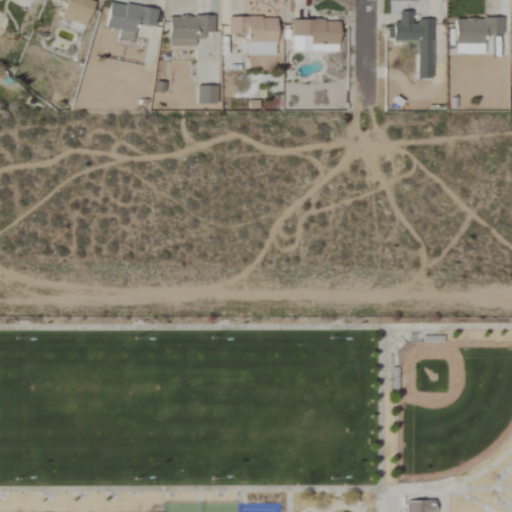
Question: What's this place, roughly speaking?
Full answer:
It's a sports ground.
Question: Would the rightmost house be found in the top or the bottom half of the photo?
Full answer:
You can find the rightmost house in the top half.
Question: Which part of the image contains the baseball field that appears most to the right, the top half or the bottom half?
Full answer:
The baseball field that appears most to the right sits in the bottom half of the picture.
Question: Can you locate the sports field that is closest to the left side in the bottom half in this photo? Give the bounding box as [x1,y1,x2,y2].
[0,330,378,486]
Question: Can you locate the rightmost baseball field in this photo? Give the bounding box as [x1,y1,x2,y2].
[399,342,512,482]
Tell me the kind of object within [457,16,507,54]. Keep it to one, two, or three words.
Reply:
house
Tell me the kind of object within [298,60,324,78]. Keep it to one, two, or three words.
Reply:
swimming pool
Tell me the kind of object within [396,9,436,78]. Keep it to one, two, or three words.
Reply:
house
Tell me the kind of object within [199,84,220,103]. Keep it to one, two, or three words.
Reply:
building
